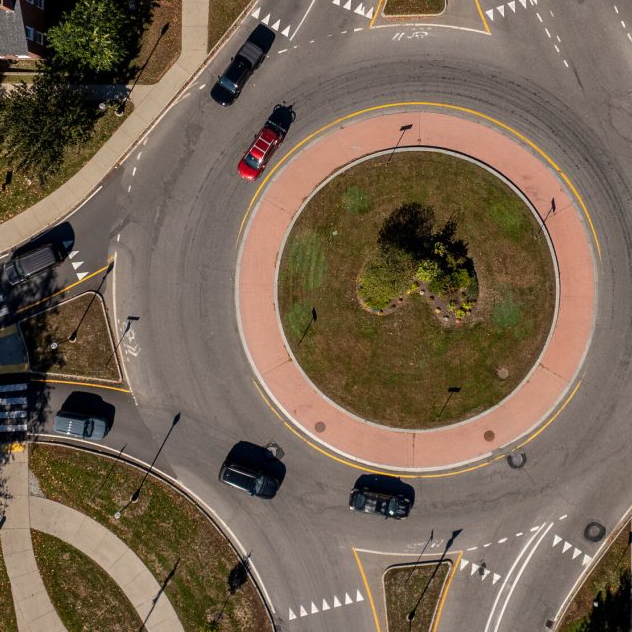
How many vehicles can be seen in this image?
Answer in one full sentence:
The number of vehicles here is 6.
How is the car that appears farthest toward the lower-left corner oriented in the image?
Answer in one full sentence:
The car that appears farthest toward the lower-left corner is laid out horizontally.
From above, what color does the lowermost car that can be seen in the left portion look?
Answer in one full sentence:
The lowermost car that can be seen in the left portion is black.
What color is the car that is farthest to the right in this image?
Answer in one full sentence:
The car that is farthest to the right is black.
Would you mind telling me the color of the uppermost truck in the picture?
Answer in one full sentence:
The uppermost truck is black.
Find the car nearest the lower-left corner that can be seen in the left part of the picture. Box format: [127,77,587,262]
[53,411,111,443]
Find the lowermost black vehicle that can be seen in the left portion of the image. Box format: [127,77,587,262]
[218,461,279,498]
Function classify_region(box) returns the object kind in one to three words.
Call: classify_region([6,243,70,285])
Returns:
car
